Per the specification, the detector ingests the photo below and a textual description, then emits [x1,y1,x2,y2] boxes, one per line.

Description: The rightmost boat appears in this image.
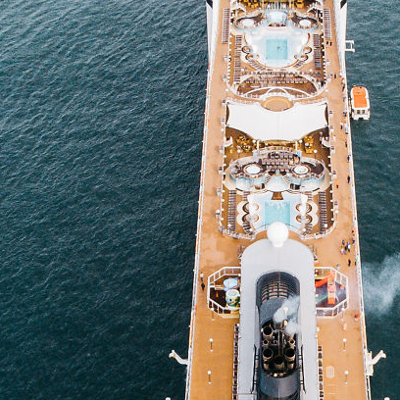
[350,89,371,121]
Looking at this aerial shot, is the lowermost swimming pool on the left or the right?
right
